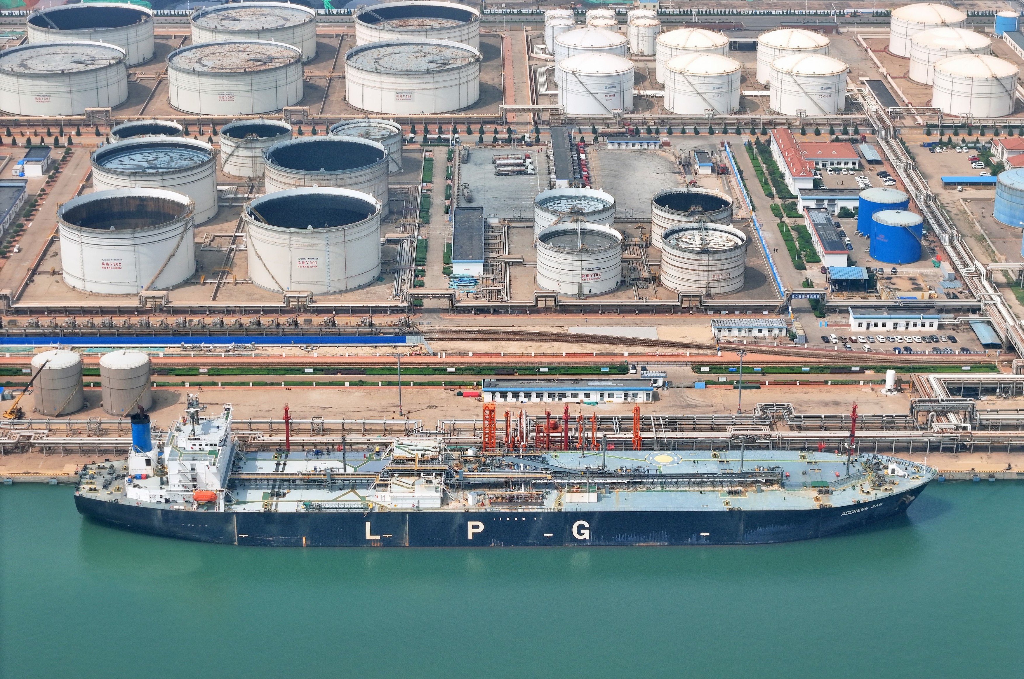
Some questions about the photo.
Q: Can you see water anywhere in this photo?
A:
Yes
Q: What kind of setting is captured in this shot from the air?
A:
industrial area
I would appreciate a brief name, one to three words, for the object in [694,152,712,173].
house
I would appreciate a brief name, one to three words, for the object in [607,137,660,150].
building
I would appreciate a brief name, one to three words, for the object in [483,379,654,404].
building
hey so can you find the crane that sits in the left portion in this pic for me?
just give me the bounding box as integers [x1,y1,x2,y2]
[0,353,48,416]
